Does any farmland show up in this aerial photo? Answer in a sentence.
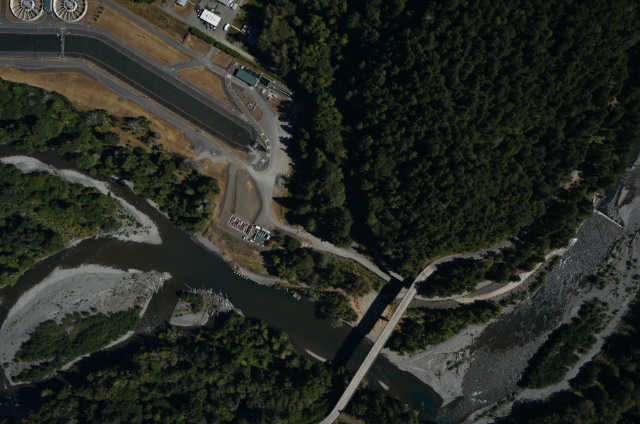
No, farmland can't be seen anywhere here.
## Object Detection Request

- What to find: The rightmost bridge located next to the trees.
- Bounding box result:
[334,269,428,413]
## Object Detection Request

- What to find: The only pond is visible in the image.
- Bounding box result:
[0,26,258,151]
